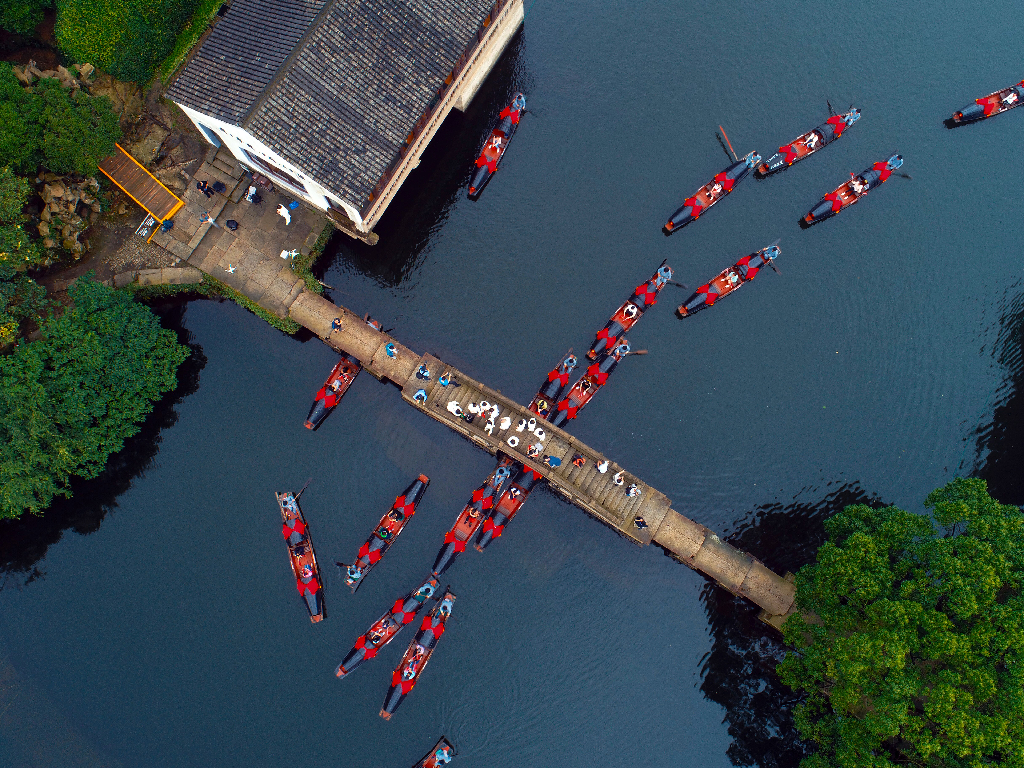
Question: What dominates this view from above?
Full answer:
The scene is dominated by water.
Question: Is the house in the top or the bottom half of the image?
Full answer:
Seen from above, the house lies in the top half of the view.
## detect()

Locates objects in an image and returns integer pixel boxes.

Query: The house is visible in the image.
[163,0,524,265]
